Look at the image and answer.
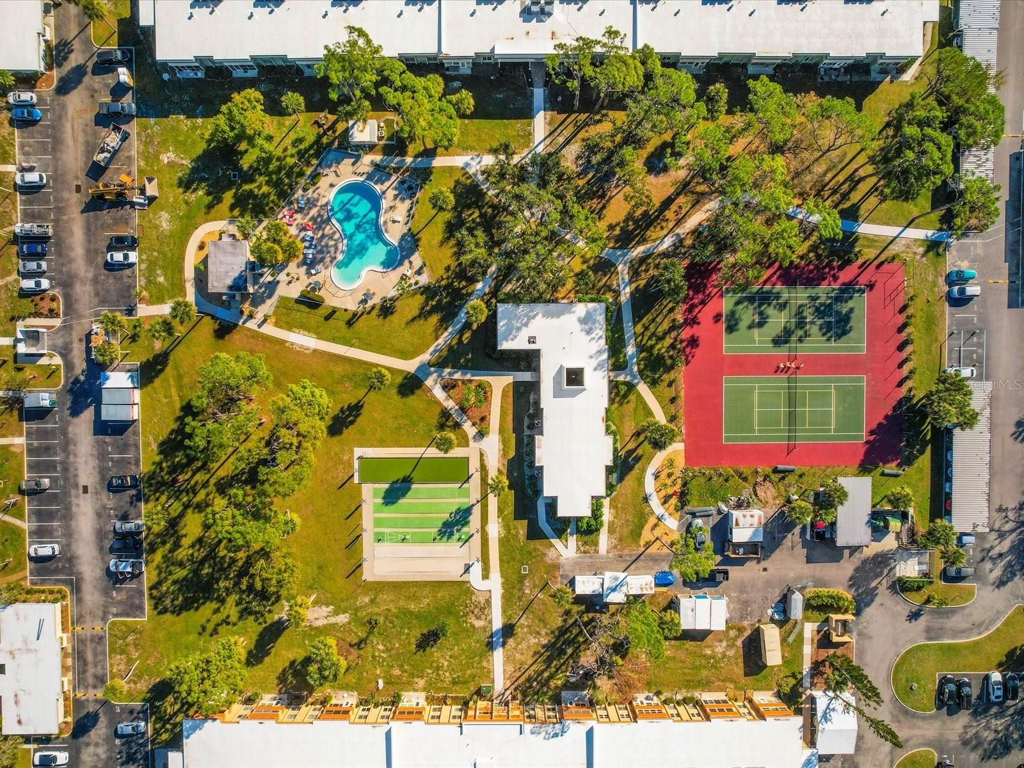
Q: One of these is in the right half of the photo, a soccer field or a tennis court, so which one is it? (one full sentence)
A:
The feature located in the right half of the photo is a tennis court.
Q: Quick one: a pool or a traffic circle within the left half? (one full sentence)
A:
The one visible within the left half is a pool.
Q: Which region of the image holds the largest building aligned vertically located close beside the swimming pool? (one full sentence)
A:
The largest building aligned vertically located close beside the swimming pool appears toward the center of the photo.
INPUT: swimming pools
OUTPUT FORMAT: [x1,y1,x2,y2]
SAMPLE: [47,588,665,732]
[225,150,429,323]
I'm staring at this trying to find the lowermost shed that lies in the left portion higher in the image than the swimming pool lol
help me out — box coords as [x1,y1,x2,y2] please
[349,120,379,148]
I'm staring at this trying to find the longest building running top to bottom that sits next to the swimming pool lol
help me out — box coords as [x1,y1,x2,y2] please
[496,302,614,517]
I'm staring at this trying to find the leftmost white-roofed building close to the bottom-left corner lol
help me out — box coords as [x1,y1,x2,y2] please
[0,599,72,734]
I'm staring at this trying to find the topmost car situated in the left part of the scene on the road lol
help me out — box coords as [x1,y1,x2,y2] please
[97,48,130,65]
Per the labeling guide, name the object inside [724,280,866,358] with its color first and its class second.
green tennis court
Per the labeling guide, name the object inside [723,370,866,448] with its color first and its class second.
green tennis court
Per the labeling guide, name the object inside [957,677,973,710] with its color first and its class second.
black vehicle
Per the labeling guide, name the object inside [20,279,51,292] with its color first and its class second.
white vehicle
